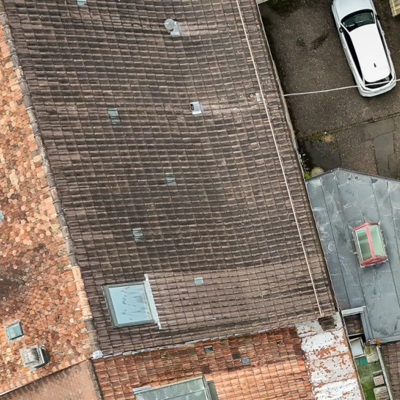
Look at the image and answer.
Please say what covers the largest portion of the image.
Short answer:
buildings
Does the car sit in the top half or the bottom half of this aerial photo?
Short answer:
top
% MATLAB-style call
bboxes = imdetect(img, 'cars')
[334,0,397,98]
